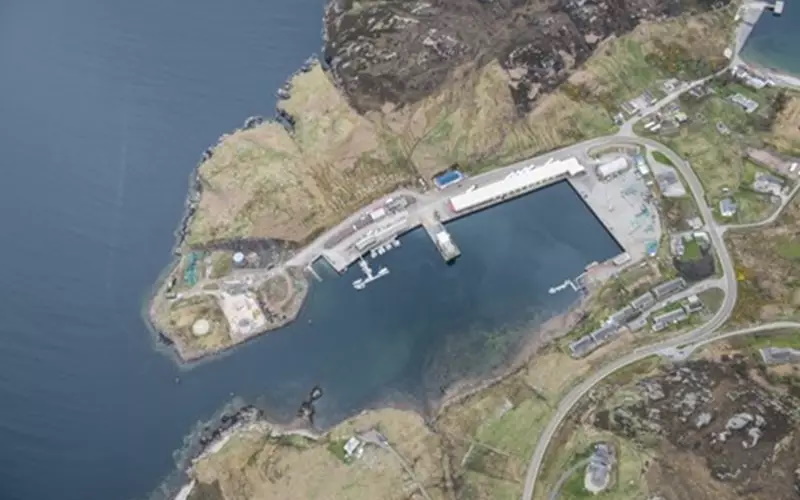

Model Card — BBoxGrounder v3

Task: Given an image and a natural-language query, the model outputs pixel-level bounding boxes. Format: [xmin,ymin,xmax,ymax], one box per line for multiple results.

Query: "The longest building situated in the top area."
[449,162,566,216]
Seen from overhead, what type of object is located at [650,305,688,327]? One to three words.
house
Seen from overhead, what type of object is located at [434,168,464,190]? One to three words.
building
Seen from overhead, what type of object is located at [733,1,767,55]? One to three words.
pier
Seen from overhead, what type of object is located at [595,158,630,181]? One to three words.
shed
